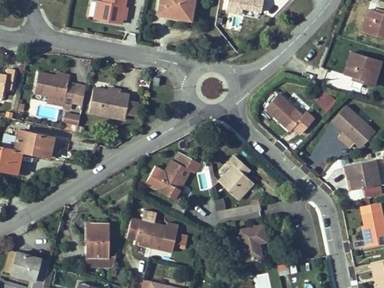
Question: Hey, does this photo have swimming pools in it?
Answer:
Yes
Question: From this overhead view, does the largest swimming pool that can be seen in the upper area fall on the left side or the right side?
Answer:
left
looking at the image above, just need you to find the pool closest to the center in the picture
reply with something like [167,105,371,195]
[197,164,211,190]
